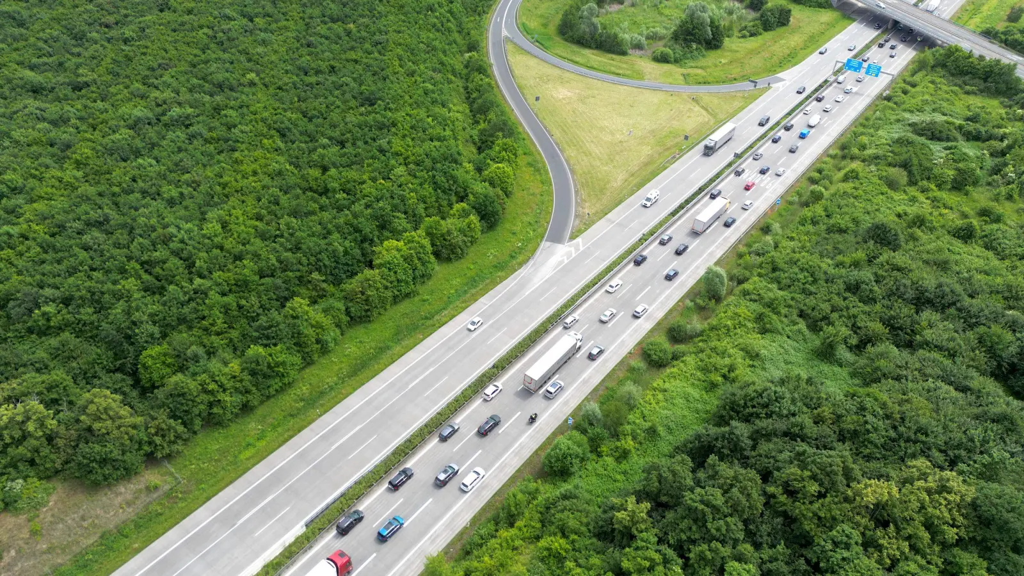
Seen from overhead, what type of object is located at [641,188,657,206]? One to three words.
vehicle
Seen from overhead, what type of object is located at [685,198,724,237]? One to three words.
truck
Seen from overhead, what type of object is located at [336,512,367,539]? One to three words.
car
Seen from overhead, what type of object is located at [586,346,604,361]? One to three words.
car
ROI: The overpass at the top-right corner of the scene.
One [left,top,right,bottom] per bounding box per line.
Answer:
[842,0,988,52]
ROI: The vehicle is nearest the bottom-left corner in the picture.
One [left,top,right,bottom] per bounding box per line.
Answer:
[302,548,352,576]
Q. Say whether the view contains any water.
No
